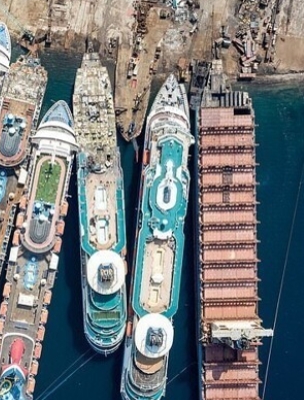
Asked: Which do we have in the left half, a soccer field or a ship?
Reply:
ship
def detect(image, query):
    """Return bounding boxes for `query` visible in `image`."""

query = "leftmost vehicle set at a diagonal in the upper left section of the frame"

[23,36,41,58]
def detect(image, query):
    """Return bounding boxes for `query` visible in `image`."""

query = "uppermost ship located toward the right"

[188,60,210,108]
